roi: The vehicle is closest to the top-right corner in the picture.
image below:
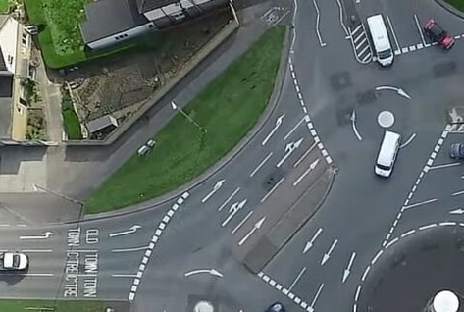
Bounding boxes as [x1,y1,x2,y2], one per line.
[425,19,455,50]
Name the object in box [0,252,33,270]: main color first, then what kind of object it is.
white vehicle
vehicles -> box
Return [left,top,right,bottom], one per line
[368,11,395,71]
[425,19,455,50]
[374,132,400,180]
[450,141,464,159]
[0,252,33,270]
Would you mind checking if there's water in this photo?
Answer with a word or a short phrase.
No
